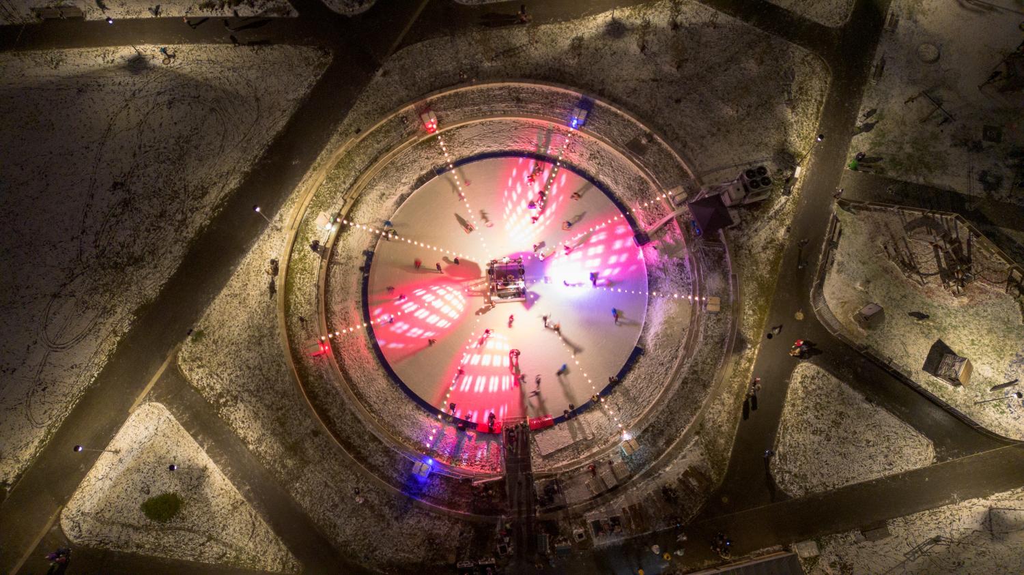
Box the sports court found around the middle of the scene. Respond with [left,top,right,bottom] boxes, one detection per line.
[368,158,646,428]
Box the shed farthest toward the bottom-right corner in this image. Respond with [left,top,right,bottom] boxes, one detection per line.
[934,349,973,385]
